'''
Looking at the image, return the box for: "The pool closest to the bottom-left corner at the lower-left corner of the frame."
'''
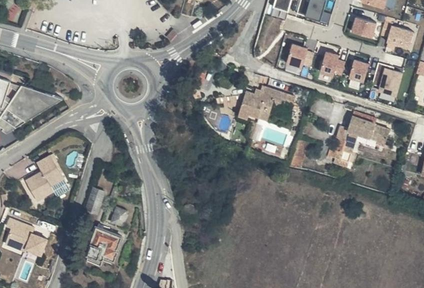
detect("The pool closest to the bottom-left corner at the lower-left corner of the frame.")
[19,260,34,282]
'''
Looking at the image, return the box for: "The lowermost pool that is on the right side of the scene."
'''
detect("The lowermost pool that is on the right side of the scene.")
[260,127,287,146]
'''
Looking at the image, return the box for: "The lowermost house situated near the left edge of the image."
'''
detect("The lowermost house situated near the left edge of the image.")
[1,218,48,258]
